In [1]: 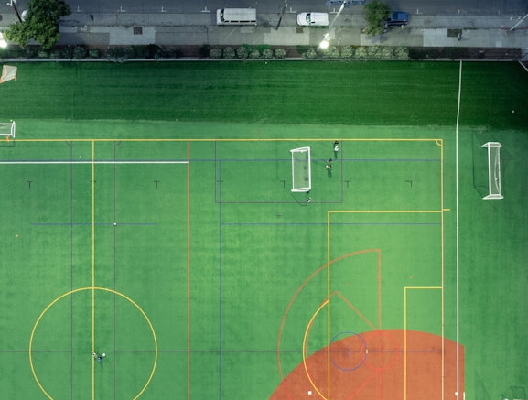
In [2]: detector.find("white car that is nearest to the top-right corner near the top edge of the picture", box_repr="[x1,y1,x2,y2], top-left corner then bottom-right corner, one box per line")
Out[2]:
[296,11,328,28]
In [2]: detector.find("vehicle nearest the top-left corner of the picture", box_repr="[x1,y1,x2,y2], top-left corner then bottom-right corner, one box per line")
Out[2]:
[216,8,256,27]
